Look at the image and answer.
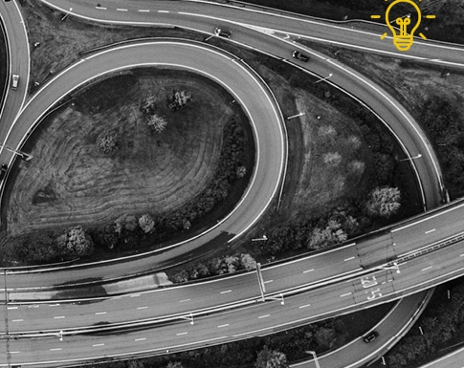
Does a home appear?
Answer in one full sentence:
No, no home is visible in the scene.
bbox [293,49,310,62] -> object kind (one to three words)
vehicle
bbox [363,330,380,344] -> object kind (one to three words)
car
